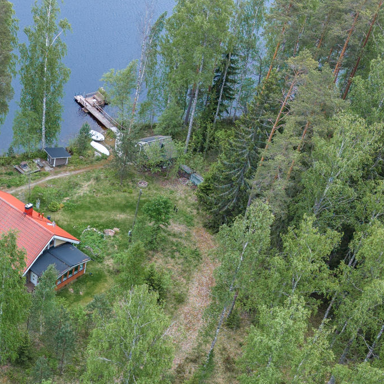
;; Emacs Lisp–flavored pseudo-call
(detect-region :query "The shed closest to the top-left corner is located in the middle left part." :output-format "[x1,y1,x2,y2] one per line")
[48,142,74,167]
